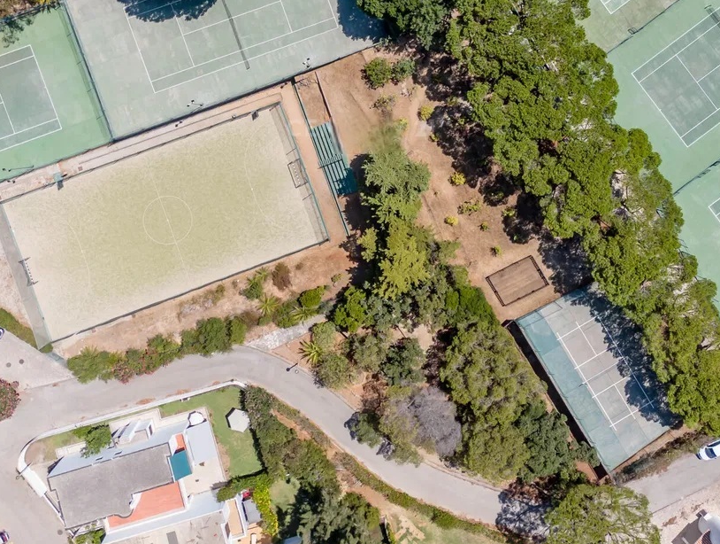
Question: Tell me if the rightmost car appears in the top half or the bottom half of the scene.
bottom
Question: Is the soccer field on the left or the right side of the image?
left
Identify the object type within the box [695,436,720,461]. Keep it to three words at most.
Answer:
car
